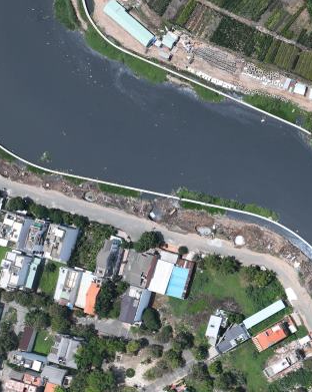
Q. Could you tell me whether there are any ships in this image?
No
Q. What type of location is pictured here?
residential area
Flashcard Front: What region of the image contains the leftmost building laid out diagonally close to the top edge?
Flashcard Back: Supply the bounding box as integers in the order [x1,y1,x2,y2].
[104,0,159,51]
